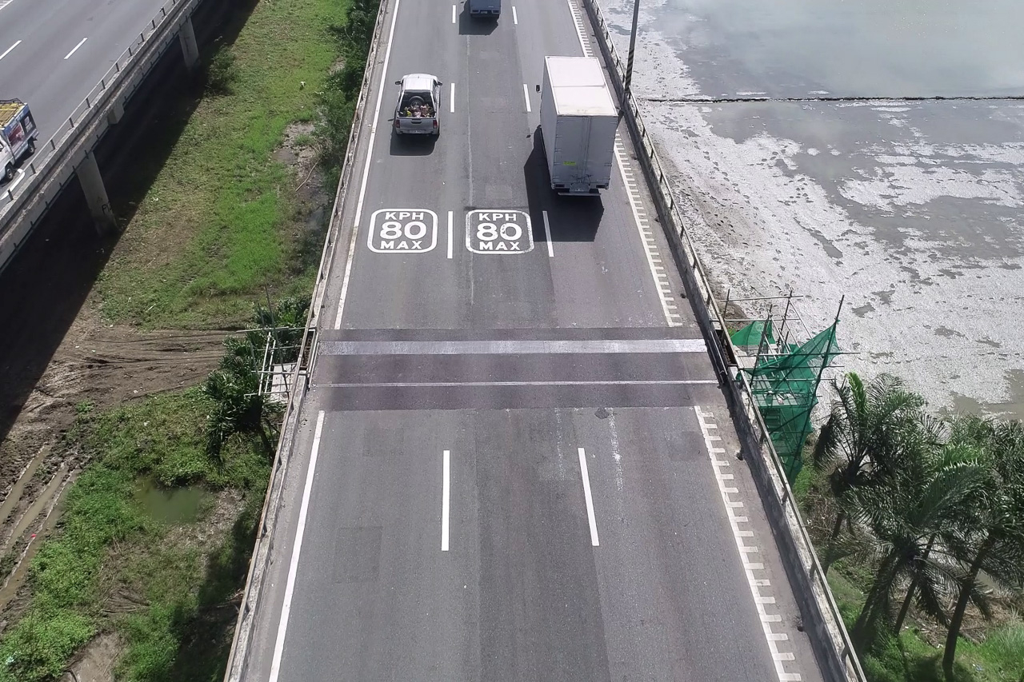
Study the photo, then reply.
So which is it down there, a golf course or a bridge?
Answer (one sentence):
It is a bridge that can be seen here.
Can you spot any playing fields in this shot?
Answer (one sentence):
No, I can't see a single playing field in this photo.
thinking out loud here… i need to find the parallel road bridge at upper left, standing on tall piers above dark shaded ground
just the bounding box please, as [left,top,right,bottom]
[0,0,214,283]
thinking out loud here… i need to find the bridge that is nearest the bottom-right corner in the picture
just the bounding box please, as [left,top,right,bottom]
[219,0,866,682]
